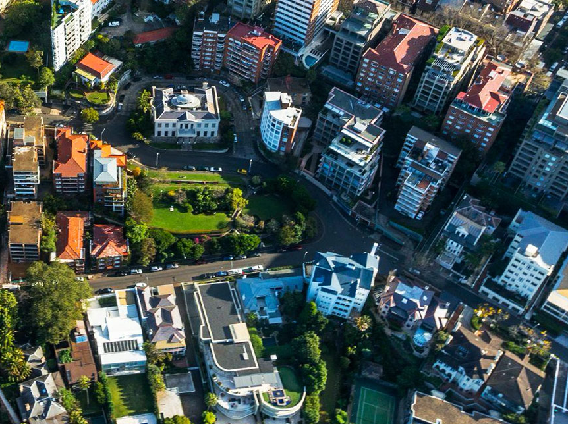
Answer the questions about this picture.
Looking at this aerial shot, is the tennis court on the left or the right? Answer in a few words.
right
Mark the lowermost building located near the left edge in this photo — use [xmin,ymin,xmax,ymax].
[15,371,70,424]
